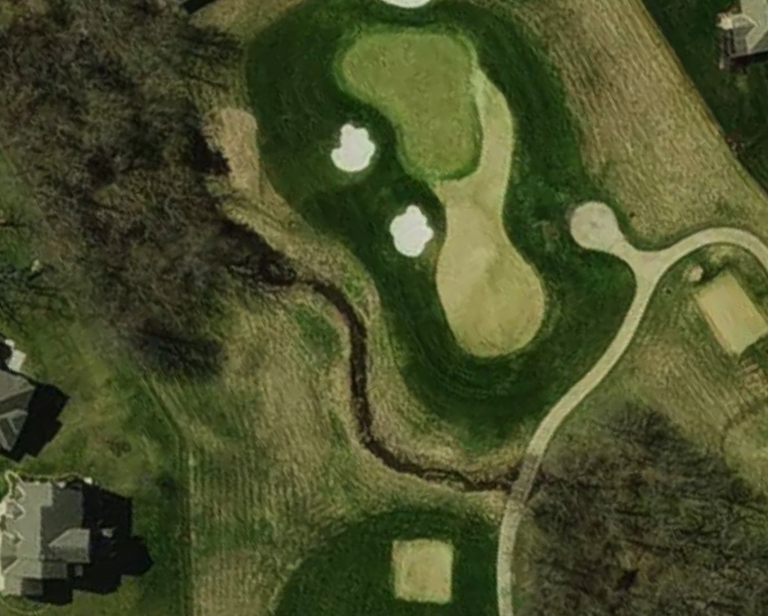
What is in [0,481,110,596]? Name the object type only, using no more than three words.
house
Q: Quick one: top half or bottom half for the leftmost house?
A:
bottom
